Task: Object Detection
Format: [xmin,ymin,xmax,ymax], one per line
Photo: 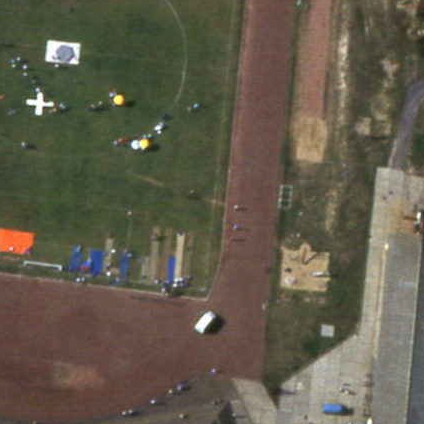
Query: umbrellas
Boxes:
[112,96,125,106]
[140,139,151,150]
[130,141,141,151]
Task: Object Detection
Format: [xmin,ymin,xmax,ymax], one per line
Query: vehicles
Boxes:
[321,403,344,417]
[194,314,216,338]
